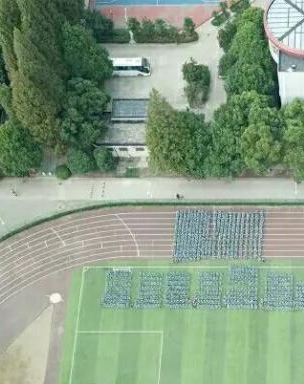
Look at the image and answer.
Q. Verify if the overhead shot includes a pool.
No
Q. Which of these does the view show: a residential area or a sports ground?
sports ground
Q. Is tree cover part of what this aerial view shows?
Yes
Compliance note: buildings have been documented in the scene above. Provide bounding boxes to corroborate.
[95,97,150,156]
[265,0,304,113]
